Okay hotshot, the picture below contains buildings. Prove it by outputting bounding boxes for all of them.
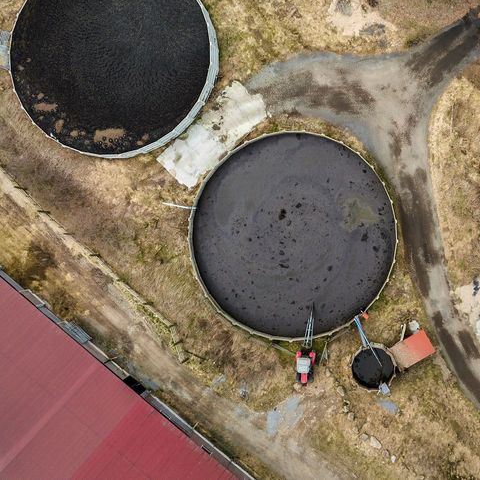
[390,328,436,369]
[0,260,264,480]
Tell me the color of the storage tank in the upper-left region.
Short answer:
black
